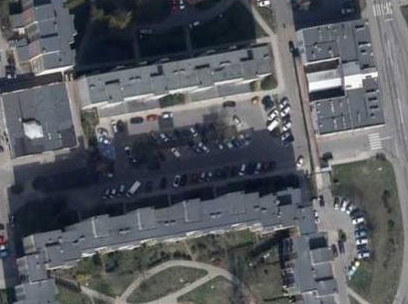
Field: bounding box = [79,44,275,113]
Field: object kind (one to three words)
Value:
building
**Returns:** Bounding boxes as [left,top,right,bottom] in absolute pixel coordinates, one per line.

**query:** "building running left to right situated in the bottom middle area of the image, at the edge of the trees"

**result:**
[21,189,305,272]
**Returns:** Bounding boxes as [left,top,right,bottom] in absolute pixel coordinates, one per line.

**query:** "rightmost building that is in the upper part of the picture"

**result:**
[296,16,385,136]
